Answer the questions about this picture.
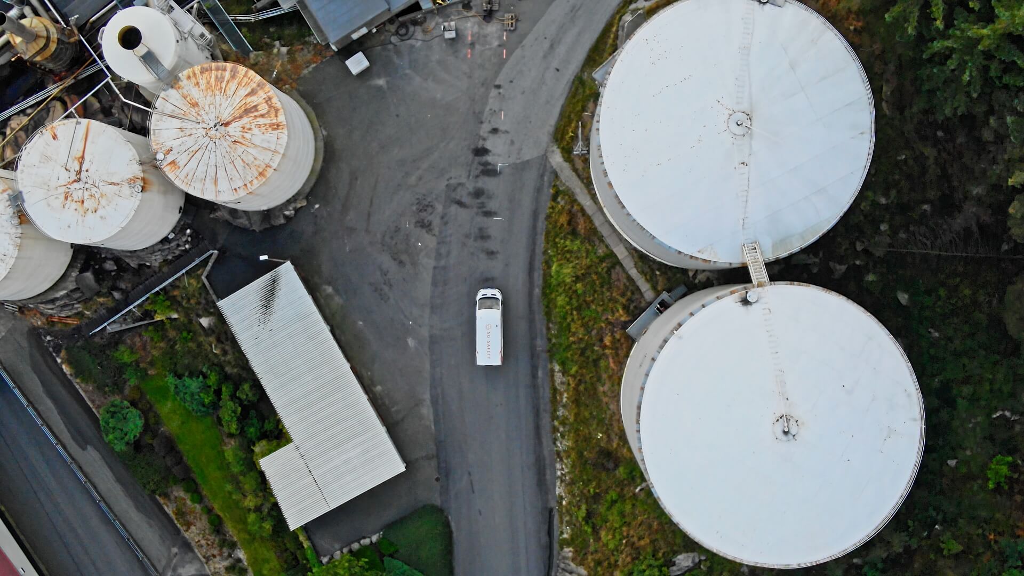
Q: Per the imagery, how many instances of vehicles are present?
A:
1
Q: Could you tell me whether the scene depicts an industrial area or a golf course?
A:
industrial area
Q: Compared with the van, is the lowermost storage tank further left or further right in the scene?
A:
on its right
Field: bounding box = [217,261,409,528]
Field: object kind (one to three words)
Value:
shed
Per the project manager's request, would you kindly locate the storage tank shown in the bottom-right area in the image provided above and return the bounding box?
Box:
[619,282,932,573]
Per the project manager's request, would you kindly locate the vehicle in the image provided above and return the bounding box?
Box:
[473,289,505,367]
